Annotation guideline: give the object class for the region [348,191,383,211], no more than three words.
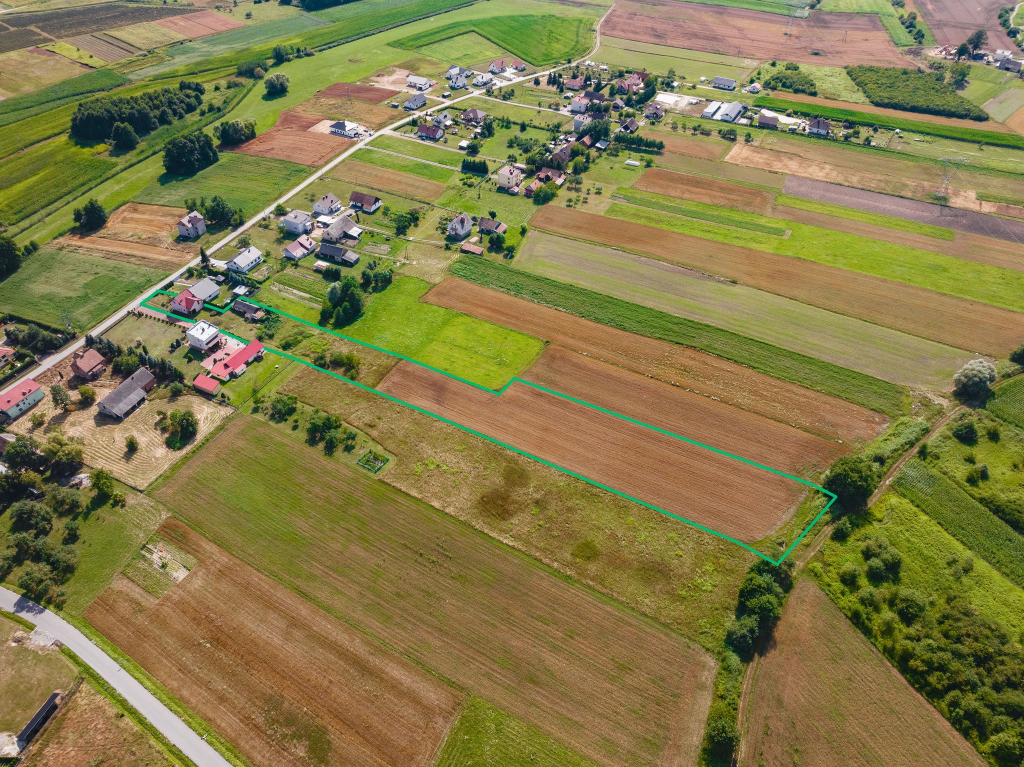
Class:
building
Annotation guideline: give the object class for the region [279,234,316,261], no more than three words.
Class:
house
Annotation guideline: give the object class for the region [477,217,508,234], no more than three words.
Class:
barn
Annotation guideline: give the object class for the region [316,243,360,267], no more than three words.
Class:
shed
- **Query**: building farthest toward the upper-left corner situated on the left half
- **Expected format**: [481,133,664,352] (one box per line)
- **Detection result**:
[176,211,206,236]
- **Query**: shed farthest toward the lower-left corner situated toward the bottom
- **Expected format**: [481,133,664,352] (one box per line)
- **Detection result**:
[19,691,58,743]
